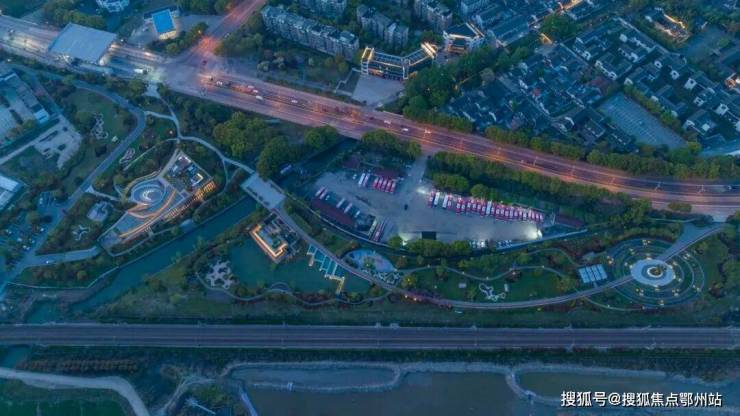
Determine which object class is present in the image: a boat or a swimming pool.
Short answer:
swimming pool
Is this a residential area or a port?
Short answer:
residential area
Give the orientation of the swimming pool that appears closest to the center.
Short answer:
diagonally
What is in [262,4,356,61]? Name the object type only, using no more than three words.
building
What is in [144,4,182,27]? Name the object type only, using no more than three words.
building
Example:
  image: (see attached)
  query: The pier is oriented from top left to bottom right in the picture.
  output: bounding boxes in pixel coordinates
[306,245,345,298]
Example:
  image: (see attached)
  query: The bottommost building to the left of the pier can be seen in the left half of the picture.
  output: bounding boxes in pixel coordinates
[249,210,298,262]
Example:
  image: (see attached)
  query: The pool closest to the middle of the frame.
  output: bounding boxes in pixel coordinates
[309,248,343,277]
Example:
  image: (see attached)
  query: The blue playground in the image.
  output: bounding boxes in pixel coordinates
[342,247,396,274]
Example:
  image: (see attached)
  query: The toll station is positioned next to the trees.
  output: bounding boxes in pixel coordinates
[48,22,118,68]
